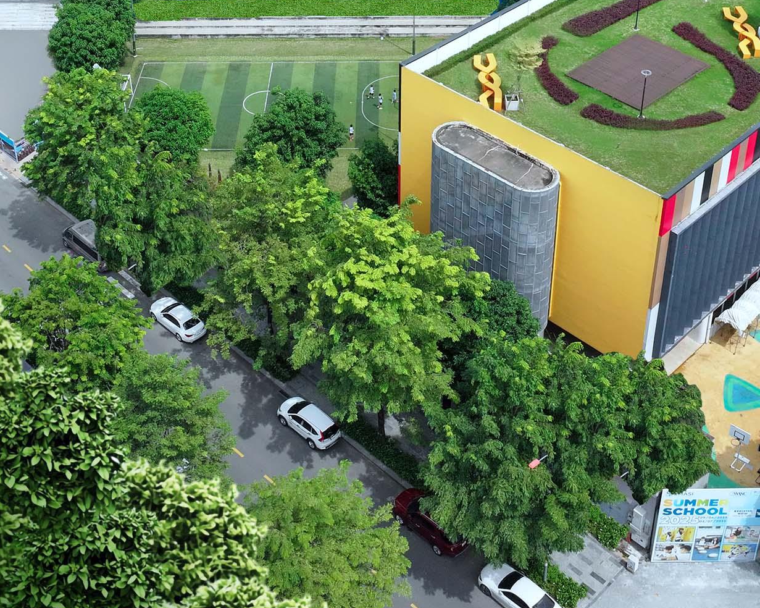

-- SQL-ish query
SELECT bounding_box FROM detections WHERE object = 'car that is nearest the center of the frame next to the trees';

[278,398,343,452]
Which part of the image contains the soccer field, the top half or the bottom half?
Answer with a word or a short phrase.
top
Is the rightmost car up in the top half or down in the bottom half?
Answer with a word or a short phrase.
bottom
